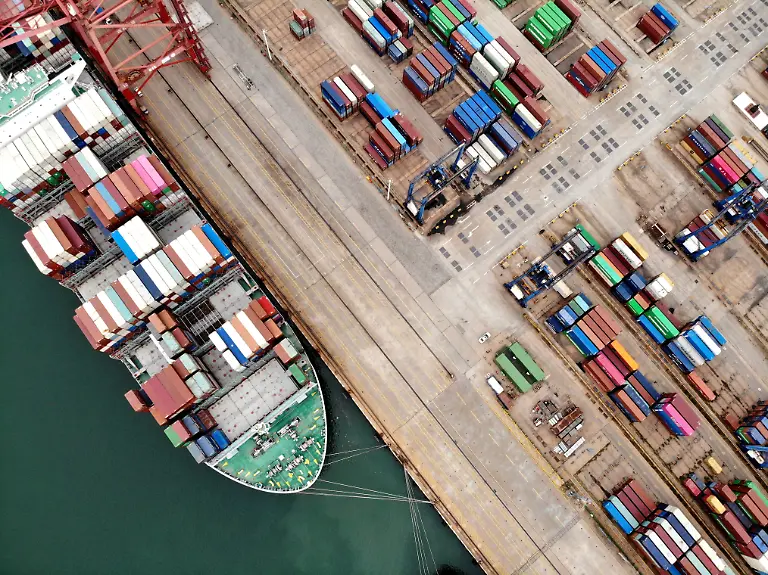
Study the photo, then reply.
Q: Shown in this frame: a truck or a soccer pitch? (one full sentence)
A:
This aerial view contains a truck.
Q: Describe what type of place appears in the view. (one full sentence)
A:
The area seen from above is a port.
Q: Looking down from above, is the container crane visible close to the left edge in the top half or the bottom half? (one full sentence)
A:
You can find the container crane visible close to the left edge in the top half.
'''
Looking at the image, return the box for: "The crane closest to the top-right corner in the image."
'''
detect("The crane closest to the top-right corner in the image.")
[674,183,768,264]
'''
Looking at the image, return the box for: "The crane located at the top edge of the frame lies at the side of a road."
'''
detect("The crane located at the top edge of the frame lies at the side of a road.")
[0,0,212,125]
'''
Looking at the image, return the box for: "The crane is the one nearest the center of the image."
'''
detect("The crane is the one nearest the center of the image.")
[403,141,479,221]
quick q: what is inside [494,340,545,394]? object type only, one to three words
shed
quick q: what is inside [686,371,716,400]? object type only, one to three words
shipping container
